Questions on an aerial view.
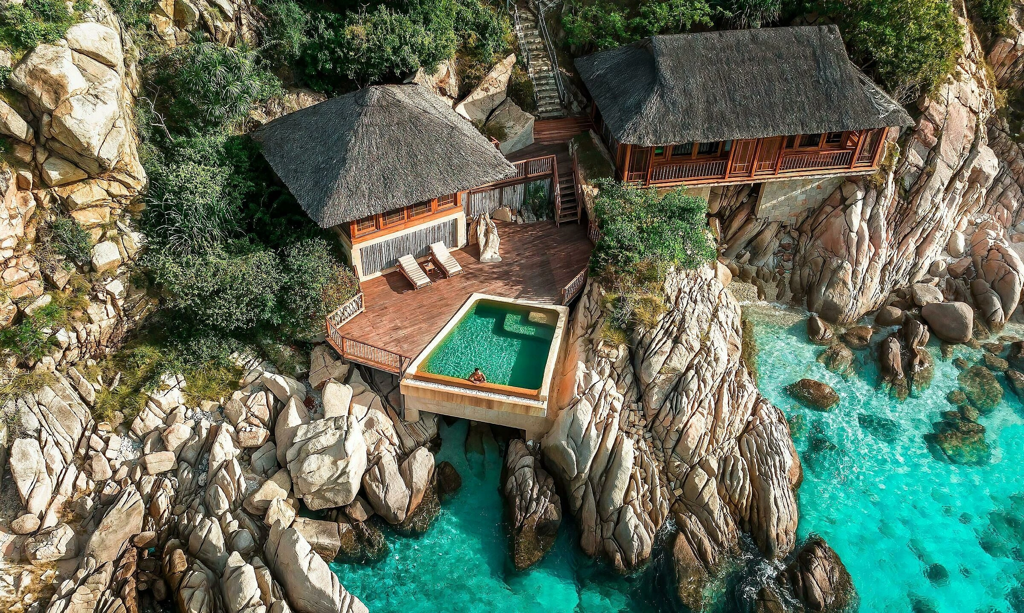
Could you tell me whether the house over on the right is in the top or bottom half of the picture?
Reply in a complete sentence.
The house over on the right is in the top half of the image.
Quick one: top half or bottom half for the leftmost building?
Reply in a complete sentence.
The leftmost building is in the top half of the image.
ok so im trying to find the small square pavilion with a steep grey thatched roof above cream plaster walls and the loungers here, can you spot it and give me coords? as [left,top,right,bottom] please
[250,86,520,281]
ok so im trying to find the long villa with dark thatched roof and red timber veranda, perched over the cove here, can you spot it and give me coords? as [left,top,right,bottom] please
[573,17,914,194]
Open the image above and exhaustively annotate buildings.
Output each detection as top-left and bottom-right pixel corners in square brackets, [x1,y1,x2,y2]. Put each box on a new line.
[250,86,520,281]
[573,17,914,194]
